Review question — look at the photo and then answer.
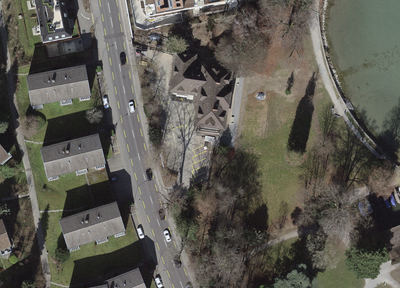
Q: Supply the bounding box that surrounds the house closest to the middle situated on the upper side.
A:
[168,52,234,142]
